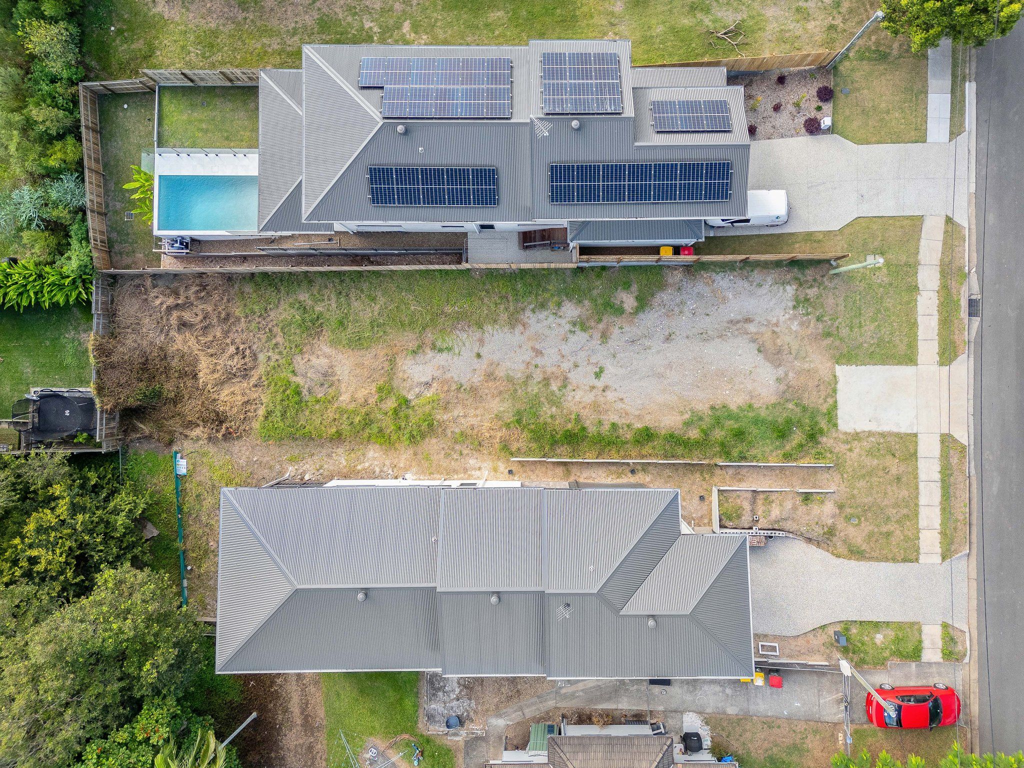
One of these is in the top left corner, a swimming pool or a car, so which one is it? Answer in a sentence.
It is a swimming pool that can be seen in the top left corner.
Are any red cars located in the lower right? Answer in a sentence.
Yes, a red car is visible in the lower right.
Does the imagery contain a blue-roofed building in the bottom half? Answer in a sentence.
No, looking in the bottom half, there is no blue-roofed building.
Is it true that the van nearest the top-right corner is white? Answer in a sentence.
Yes, the van nearest the top-right corner is indeed white.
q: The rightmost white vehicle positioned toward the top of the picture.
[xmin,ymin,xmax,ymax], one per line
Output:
[735,184,791,228]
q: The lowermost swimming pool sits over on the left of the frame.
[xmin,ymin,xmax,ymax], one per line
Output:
[154,154,259,237]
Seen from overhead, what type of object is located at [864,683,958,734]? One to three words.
car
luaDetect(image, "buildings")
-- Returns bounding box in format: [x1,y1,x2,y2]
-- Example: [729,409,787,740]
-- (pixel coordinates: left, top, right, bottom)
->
[255,37,752,252]
[213,466,757,681]
[480,724,740,768]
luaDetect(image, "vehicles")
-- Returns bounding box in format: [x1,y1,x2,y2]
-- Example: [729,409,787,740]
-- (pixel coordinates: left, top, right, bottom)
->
[864,683,958,734]
[735,184,791,228]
